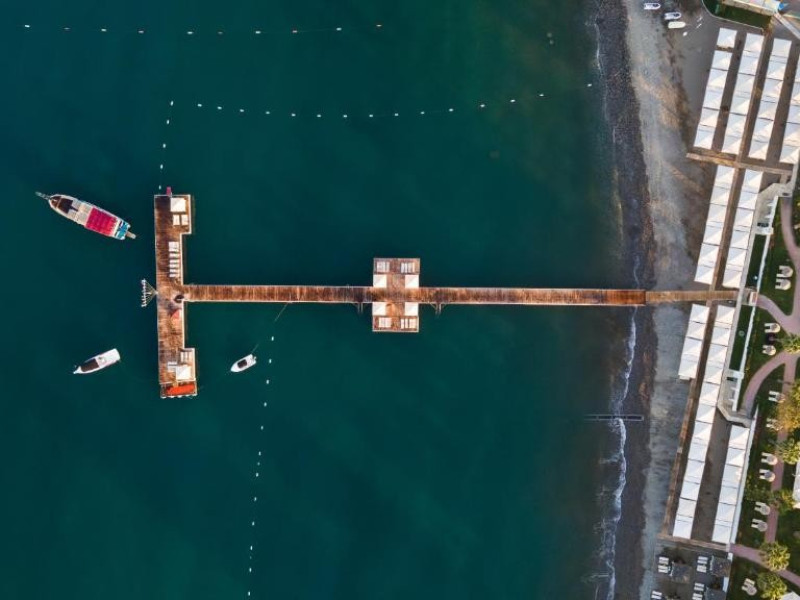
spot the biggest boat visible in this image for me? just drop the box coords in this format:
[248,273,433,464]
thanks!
[33,193,137,240]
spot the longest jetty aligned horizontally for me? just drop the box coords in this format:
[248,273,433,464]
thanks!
[154,195,738,385]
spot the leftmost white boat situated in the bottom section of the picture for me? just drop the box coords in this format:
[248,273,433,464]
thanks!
[73,348,123,374]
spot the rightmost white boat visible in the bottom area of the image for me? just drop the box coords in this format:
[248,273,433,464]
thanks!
[231,355,255,371]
